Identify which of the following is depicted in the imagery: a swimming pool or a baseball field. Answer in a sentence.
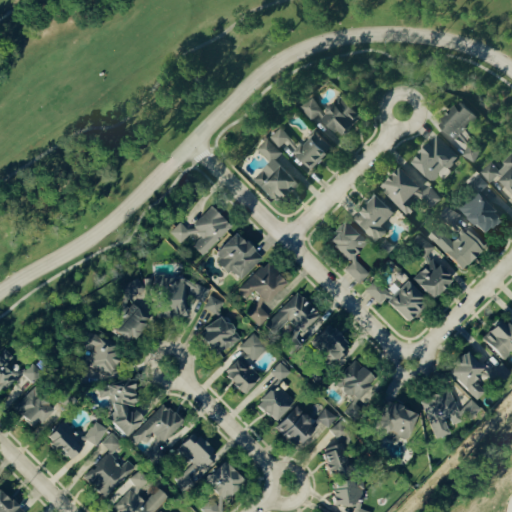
I can see a swimming pool in this picture.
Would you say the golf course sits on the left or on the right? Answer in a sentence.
It is on the left.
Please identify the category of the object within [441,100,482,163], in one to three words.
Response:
house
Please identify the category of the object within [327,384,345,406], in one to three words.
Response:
swimming pool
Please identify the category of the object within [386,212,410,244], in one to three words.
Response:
swimming pool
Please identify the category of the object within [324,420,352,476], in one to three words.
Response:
house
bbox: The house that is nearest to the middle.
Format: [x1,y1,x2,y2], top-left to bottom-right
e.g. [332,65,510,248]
[216,233,261,282]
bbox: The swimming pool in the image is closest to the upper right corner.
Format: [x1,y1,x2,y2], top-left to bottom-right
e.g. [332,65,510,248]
[320,86,338,106]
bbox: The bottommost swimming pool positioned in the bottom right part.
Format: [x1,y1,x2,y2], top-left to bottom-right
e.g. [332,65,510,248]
[381,440,413,462]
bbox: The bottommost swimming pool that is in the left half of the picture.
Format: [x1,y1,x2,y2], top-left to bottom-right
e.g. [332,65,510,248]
[136,437,156,456]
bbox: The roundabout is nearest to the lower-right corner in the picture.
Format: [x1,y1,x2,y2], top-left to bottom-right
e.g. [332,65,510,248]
[262,455,315,512]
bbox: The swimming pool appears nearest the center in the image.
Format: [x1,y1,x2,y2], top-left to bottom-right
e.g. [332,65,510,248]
[204,255,226,286]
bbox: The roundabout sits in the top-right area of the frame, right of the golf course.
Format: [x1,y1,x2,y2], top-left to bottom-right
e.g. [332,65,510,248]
[384,86,426,146]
